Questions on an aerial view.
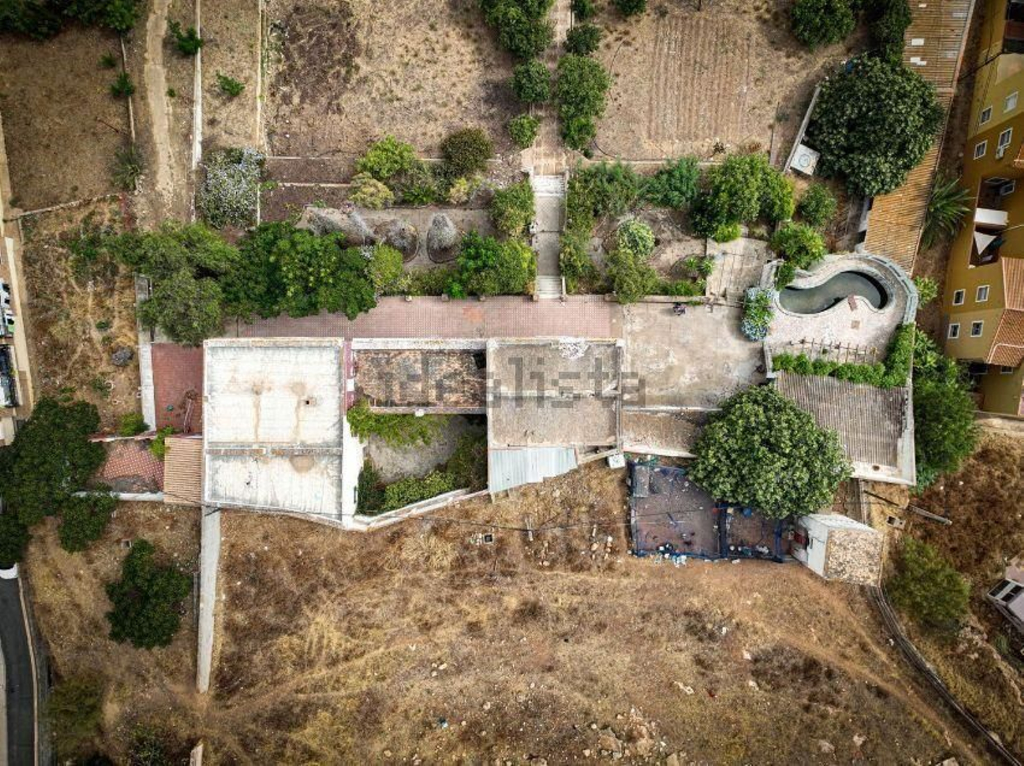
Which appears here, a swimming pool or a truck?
swimming pool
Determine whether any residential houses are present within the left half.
Yes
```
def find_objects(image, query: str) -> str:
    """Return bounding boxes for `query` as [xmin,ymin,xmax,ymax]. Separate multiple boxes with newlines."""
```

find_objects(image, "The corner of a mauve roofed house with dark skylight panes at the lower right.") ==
[973,551,1024,640]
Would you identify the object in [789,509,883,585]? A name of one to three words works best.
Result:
shed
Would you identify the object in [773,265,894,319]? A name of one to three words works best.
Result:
swimming pool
